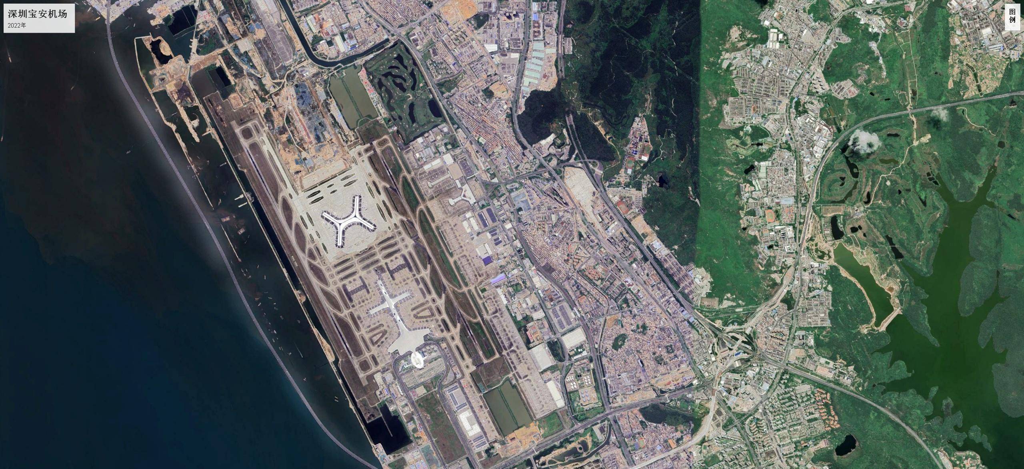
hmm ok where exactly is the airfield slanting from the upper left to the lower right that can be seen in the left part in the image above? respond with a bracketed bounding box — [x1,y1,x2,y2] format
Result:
[204,92,557,444]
